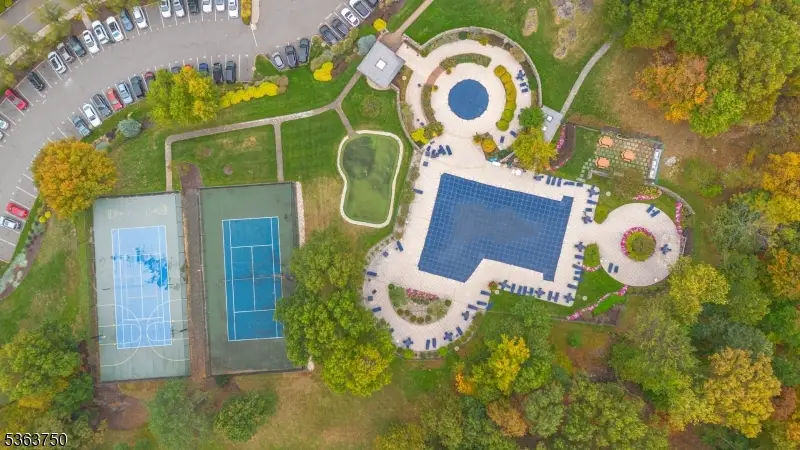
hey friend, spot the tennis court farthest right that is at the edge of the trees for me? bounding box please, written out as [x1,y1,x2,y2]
[204,182,302,375]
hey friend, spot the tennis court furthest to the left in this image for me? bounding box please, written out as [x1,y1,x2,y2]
[94,193,189,382]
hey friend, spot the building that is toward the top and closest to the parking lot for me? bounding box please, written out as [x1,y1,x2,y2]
[357,39,405,91]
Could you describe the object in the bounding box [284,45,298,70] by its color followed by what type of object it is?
gray car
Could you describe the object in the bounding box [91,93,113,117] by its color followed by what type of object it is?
gray car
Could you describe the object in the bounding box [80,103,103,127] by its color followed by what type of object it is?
white car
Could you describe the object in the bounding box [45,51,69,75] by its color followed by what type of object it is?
white car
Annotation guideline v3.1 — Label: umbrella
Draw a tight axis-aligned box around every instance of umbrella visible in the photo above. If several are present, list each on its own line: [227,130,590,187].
[601,135,613,148]
[623,149,635,162]
[597,156,609,169]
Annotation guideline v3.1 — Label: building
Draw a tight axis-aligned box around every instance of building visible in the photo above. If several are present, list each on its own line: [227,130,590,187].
[357,39,405,91]
[527,105,561,141]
